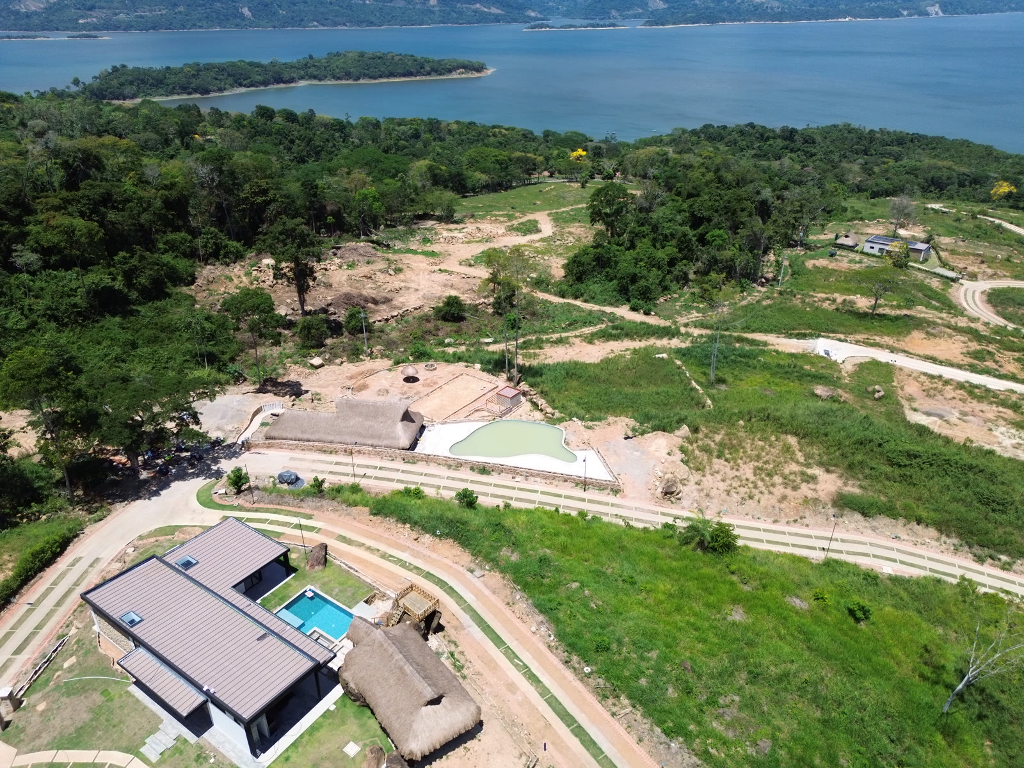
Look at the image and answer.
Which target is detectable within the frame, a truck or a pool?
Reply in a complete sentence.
Of the two, only a pool appears.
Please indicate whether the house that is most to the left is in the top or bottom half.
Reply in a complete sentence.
The house that is most to the left is in the bottom half of the image.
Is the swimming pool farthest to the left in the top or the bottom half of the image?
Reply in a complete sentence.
The swimming pool farthest to the left is in the bottom half of the image.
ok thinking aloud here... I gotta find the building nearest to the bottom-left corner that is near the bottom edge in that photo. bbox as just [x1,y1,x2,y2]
[80,517,341,768]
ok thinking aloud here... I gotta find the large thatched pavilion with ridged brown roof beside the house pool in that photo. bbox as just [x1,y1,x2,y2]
[341,605,485,767]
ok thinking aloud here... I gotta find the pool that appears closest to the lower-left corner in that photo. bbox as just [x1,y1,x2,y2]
[271,581,361,645]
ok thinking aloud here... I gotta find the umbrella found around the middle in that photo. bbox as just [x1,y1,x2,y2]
[401,363,419,382]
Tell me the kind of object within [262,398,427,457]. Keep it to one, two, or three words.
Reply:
building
